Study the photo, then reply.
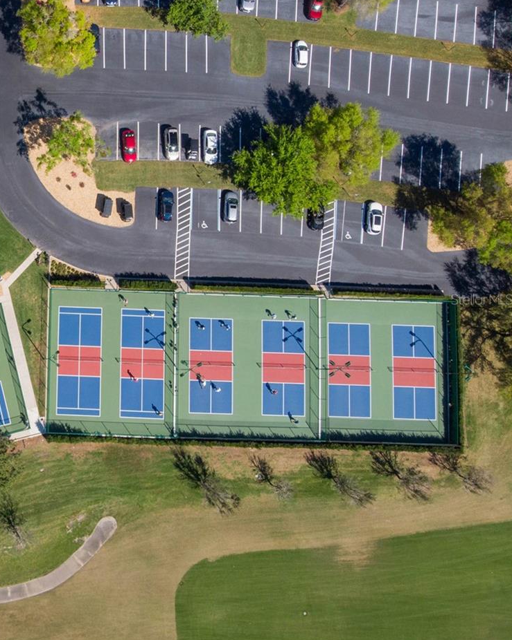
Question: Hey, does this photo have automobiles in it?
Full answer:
Yes, this view includes an automobile.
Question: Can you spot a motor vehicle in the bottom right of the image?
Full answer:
No, no motor vehicle is visible in the bottom right of the image.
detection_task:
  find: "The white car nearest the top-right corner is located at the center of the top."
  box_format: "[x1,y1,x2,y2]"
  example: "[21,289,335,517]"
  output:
[293,41,310,69]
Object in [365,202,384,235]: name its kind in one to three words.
car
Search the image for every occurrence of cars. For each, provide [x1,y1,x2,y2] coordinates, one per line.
[121,130,137,162]
[103,0,116,6]
[365,202,384,235]
[202,130,219,163]
[163,126,180,160]
[87,25,102,57]
[158,190,174,223]
[307,0,324,19]
[222,190,239,224]
[293,41,310,69]
[239,0,254,12]
[307,204,325,236]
